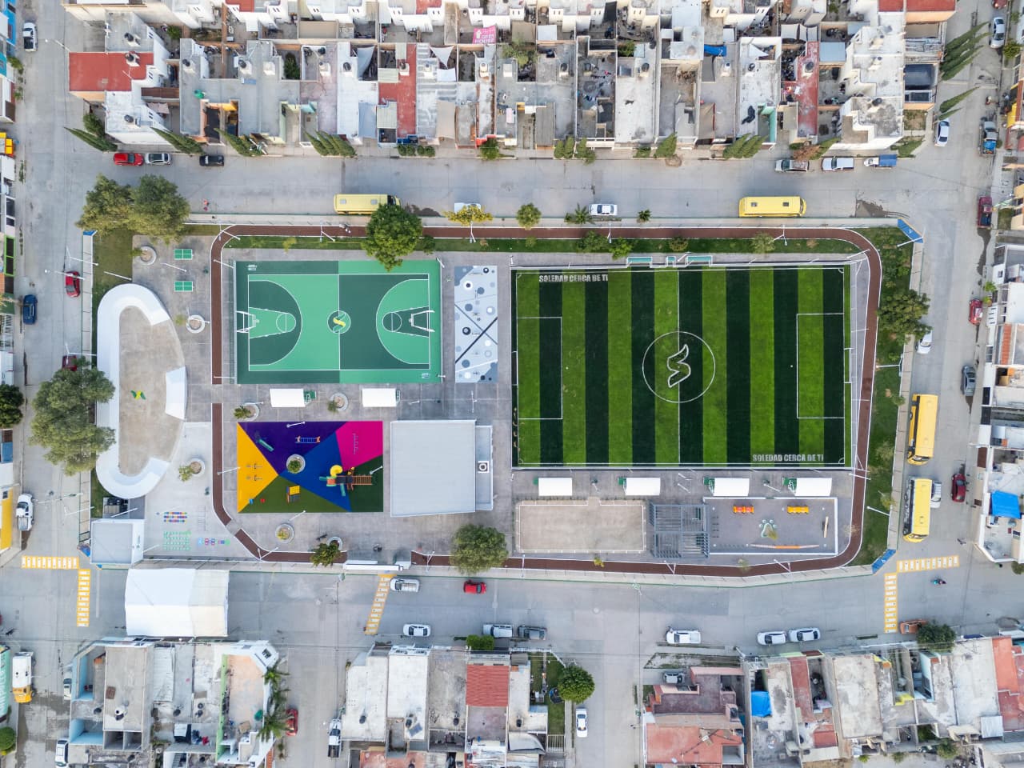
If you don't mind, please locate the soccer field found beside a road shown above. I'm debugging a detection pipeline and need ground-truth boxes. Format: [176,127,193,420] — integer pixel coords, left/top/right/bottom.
[512,265,851,468]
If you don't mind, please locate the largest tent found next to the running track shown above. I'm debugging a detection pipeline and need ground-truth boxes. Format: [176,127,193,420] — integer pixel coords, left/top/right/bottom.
[125,566,234,636]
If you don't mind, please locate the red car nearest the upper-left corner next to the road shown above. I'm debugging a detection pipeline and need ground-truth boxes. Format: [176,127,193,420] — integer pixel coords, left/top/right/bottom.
[113,151,145,167]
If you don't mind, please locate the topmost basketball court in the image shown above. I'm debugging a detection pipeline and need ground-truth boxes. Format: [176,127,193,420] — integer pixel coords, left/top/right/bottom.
[237,261,440,383]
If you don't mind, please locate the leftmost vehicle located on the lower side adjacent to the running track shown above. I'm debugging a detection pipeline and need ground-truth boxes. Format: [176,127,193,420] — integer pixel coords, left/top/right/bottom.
[390,578,420,592]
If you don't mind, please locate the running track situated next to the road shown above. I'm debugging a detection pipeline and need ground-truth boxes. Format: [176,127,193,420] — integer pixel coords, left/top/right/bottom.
[211,225,883,576]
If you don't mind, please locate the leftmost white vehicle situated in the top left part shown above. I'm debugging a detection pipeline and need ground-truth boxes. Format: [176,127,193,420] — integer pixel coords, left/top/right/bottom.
[22,22,39,53]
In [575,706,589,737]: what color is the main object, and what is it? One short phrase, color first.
white car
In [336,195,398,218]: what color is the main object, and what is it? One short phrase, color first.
yellow bus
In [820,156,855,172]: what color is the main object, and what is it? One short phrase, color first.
white vehicle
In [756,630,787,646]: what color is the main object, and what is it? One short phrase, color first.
white car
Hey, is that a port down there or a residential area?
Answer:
residential area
